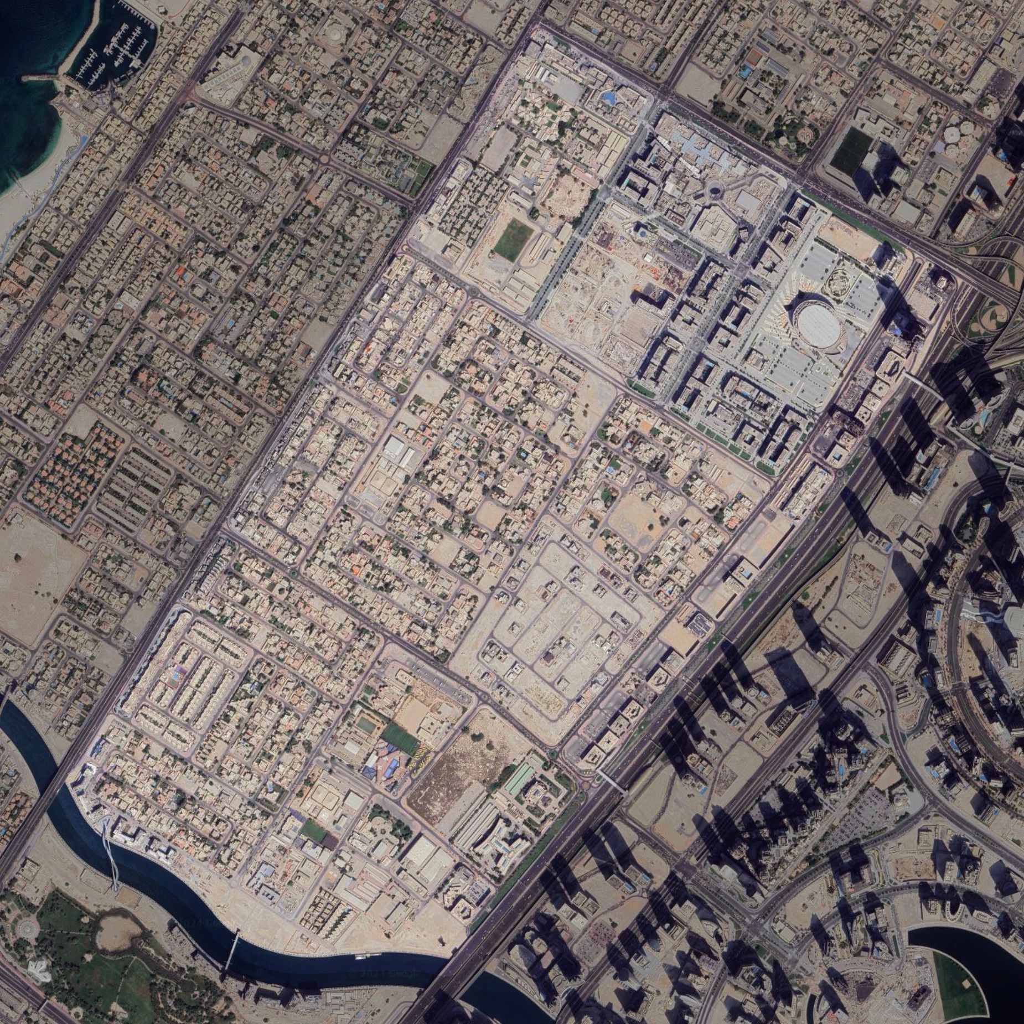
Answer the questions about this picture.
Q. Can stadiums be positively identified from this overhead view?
Yes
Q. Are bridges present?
Yes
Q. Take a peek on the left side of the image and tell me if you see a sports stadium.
No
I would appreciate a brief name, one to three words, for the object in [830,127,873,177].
sports field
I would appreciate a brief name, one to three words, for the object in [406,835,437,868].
building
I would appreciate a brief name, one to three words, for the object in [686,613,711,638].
building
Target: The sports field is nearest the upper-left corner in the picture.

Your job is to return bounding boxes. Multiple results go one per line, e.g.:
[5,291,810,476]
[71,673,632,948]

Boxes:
[481,125,516,171]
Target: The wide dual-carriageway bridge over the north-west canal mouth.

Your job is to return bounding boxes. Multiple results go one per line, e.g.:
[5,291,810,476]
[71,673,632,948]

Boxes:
[16,726,89,835]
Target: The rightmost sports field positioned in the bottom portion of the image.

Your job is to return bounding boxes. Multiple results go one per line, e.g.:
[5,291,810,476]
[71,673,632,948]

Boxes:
[381,722,418,755]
